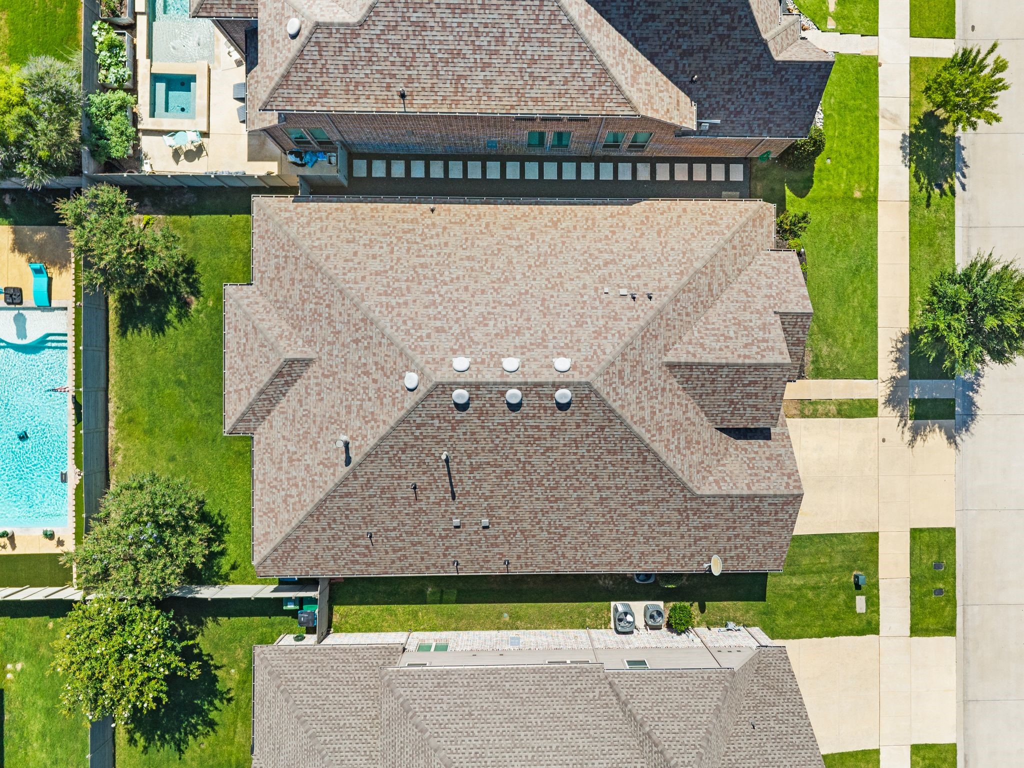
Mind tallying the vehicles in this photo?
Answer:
zero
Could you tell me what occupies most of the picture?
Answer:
buildings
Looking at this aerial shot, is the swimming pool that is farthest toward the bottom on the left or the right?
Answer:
left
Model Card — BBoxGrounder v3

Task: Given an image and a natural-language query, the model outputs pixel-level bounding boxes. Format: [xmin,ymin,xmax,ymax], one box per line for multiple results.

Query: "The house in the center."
[221,194,811,578]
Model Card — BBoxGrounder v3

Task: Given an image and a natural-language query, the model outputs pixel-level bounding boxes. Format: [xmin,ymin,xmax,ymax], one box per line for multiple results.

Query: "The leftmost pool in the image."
[0,298,73,536]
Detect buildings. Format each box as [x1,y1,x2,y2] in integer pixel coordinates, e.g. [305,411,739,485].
[186,0,834,162]
[249,621,822,768]
[221,194,811,578]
